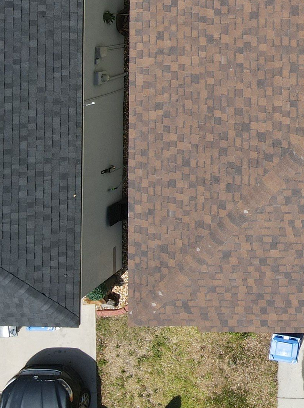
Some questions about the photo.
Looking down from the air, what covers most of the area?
buildings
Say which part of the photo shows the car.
bottom left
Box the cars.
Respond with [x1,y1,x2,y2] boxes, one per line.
[1,363,96,408]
